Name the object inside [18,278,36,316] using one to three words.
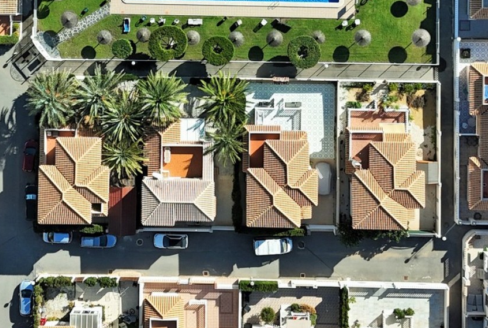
car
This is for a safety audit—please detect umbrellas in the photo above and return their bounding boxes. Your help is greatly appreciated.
[411,29,430,47]
[186,30,201,43]
[137,29,150,43]
[229,31,243,46]
[61,11,79,29]
[311,30,326,44]
[354,29,371,45]
[97,30,112,45]
[265,30,282,46]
